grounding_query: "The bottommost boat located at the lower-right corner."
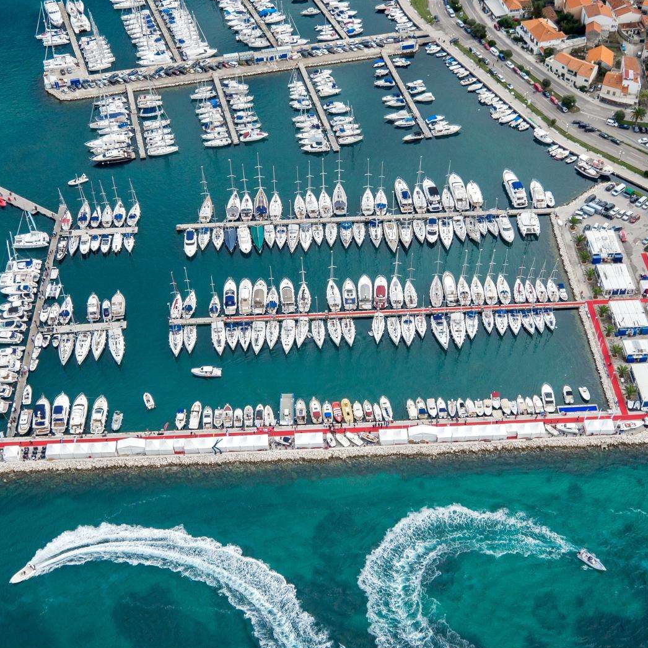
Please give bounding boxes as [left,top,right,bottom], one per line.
[577,550,605,570]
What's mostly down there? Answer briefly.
water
